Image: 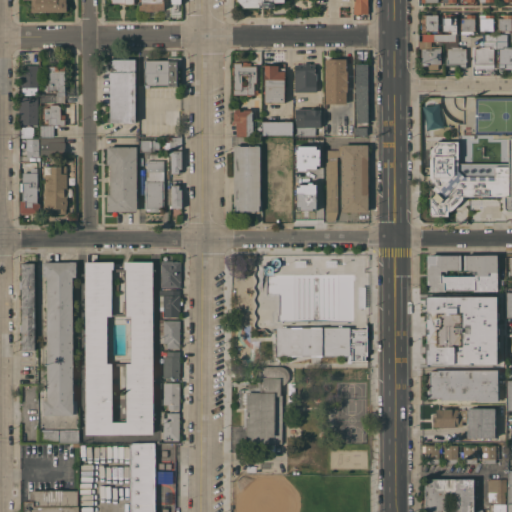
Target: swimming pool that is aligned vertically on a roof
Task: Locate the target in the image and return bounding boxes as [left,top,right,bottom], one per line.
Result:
[108,317,130,363]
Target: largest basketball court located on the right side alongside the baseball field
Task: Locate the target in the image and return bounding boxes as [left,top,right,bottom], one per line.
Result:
[336,380,367,443]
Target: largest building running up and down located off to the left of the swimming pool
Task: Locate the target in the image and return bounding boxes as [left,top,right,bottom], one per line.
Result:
[40,263,78,430]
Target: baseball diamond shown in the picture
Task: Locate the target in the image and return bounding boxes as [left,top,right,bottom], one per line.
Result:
[233,475,372,512]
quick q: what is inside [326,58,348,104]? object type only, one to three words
building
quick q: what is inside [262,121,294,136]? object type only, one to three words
house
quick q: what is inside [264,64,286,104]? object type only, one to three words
building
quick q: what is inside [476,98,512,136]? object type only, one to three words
basketball court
